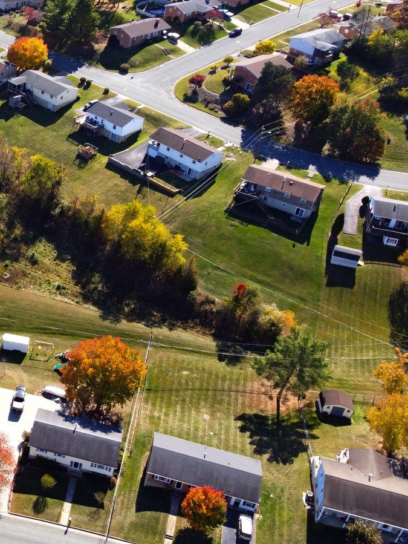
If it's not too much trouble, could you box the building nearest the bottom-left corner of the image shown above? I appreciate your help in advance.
[28,410,123,483]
